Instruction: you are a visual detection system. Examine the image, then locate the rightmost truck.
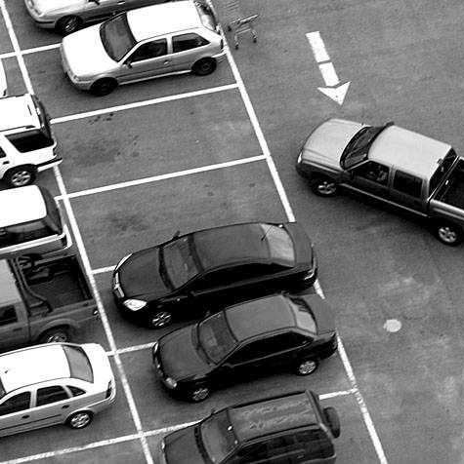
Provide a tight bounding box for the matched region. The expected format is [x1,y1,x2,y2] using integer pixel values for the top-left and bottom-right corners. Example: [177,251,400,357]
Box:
[296,119,464,246]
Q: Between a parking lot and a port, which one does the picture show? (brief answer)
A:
parking lot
